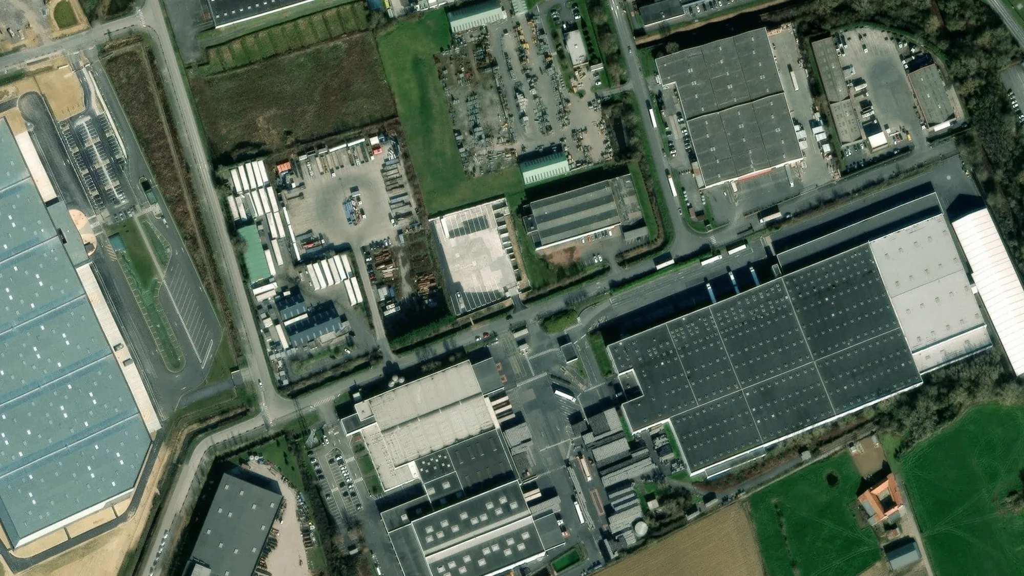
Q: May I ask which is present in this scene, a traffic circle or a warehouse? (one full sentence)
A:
There is a warehouse in the scene.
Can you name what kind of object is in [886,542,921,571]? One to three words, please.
barn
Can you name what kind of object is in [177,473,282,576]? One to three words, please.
building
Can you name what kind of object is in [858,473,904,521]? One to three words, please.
house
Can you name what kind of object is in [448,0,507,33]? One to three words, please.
shed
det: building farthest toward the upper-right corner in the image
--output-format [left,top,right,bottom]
[907,64,956,129]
